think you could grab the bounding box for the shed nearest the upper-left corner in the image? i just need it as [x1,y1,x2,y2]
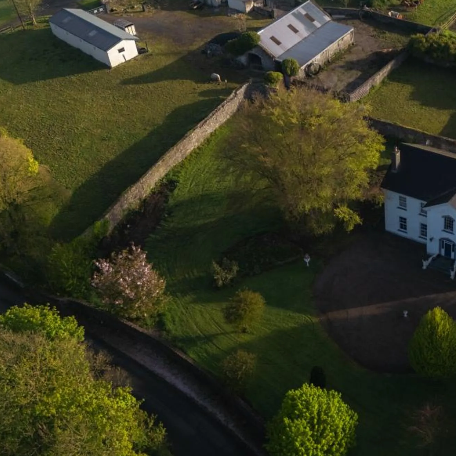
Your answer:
[43,13,142,68]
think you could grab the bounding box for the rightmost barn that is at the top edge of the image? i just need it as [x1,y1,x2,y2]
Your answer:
[240,0,356,80]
